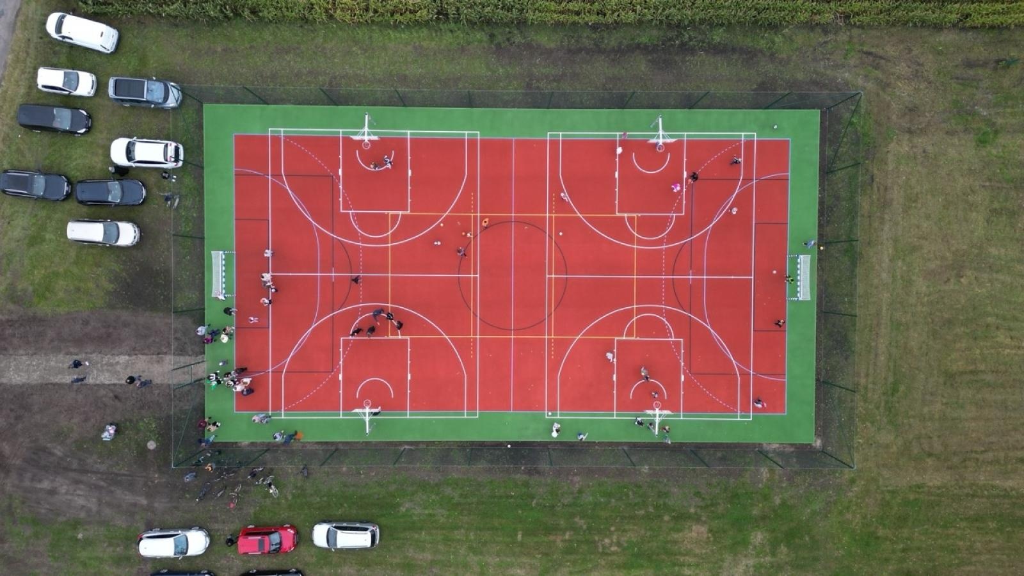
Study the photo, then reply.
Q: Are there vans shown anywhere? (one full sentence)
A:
Yes, you can see a van in this photo.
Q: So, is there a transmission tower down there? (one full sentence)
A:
No, the picture doesn't show any transmission tower.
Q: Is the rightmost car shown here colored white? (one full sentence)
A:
Yes, white is the color of the rightmost car.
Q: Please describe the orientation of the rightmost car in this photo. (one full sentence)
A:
From this overhead view, the rightmost car appears to run from side to side.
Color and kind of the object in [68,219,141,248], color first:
white car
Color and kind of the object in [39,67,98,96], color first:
white car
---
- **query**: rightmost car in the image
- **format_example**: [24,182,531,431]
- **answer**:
[312,521,380,552]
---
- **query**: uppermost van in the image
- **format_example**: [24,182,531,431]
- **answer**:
[46,10,121,53]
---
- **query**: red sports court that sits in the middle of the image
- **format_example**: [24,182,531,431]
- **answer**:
[203,104,820,444]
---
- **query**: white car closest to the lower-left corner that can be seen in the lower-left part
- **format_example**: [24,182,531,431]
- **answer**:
[139,527,210,559]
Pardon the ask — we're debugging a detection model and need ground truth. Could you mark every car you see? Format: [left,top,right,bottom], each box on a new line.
[2,170,72,200]
[68,219,141,248]
[139,527,210,559]
[110,77,183,108]
[239,525,299,556]
[242,567,305,576]
[18,104,93,135]
[312,521,380,552]
[78,177,147,206]
[110,137,184,168]
[39,67,98,96]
